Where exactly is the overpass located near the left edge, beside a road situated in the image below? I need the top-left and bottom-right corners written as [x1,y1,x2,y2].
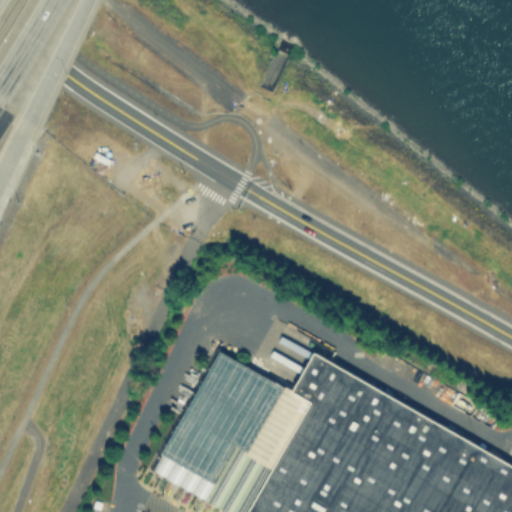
[0,0,102,230]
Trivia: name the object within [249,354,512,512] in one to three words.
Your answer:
warehouse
